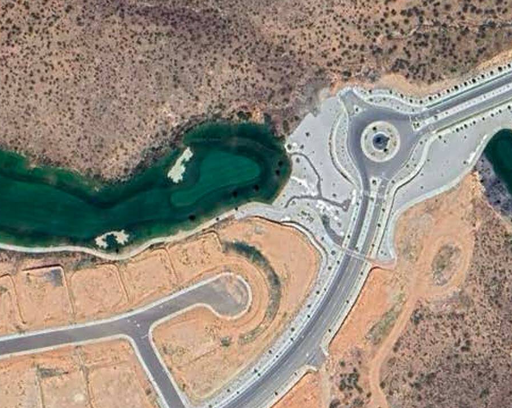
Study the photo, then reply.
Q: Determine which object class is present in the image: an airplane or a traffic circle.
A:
traffic circle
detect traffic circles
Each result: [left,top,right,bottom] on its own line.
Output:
[340,89,434,192]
